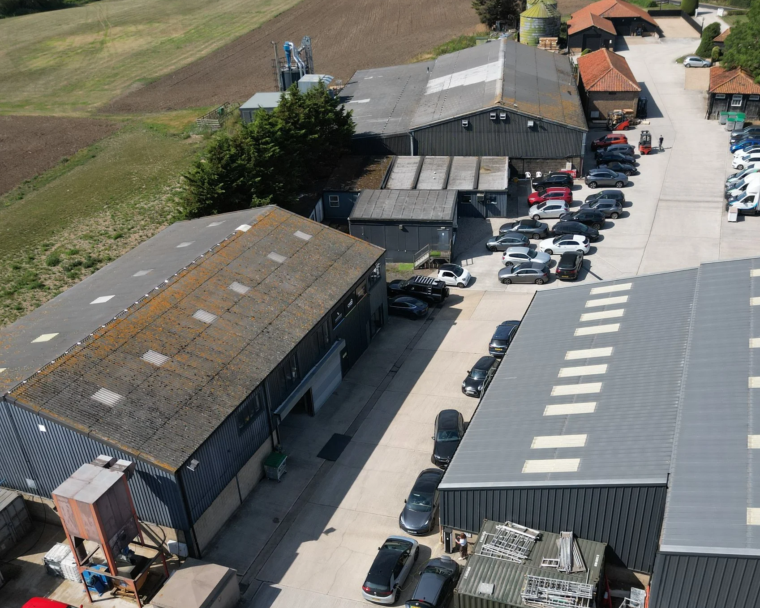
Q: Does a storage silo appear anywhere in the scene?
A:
Yes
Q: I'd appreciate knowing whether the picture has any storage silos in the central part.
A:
No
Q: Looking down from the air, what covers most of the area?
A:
buildings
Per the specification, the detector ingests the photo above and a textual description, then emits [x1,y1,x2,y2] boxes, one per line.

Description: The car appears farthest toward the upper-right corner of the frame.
[682,56,712,68]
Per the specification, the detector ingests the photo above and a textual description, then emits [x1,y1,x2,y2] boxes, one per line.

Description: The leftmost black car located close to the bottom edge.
[359,534,420,608]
